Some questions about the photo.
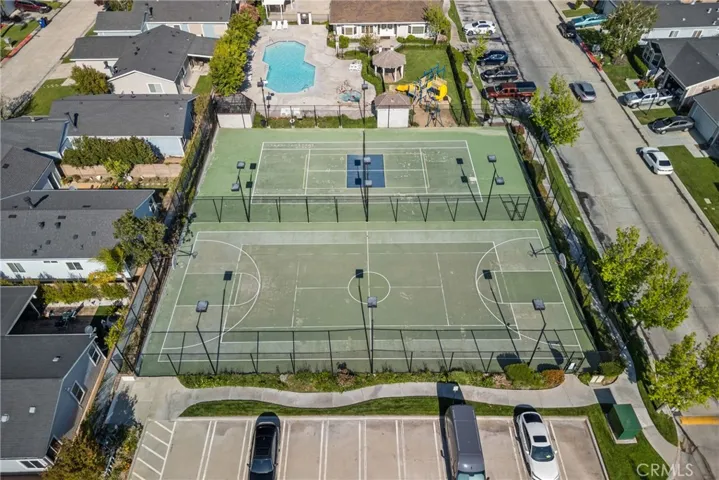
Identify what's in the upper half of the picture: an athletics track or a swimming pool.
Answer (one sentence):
What appears in the upper half of the picture is a swimming pool.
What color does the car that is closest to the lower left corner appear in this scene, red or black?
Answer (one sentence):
From above, the car that is closest to the lower left corner appears black.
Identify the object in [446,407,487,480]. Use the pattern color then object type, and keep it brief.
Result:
gray van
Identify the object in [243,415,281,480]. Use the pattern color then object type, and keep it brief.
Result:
black car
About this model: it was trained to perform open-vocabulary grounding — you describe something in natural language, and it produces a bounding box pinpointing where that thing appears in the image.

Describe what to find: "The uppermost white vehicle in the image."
[463,22,499,36]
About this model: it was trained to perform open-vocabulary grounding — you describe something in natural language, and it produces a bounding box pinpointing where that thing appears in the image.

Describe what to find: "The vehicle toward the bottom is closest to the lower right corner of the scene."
[515,408,558,480]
